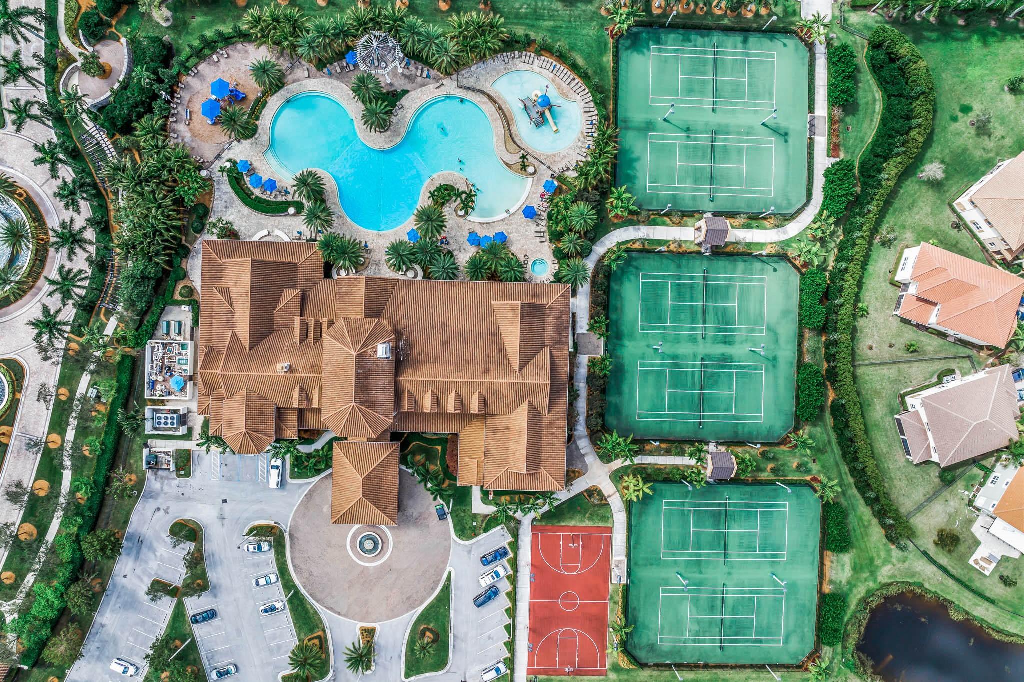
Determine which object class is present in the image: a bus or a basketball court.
basketball court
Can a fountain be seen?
Yes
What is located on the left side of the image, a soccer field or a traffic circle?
traffic circle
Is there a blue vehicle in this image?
Yes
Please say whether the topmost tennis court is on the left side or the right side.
right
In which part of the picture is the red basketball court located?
bottom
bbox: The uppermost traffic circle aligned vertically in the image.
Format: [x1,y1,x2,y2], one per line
[0,168,61,321]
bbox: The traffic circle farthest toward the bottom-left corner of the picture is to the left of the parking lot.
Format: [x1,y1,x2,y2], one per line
[0,350,30,504]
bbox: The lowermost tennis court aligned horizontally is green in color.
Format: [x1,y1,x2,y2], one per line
[626,573,818,664]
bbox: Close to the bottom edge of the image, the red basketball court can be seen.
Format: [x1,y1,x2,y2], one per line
[528,525,612,676]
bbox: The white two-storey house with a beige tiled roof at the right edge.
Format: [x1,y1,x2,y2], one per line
[957,145,1024,264]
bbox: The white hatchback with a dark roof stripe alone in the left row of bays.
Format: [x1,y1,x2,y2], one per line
[107,660,136,677]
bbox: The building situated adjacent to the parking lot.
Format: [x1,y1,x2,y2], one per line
[198,240,571,526]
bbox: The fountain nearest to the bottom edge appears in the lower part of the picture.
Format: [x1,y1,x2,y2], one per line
[346,525,392,567]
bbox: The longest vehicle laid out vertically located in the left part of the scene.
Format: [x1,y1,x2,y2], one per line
[268,460,281,489]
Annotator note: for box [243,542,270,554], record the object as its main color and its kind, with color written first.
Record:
white vehicle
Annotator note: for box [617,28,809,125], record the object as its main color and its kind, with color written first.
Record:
green tennis court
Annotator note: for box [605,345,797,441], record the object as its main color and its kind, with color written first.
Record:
green tennis court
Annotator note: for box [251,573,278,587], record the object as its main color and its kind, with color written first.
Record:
white car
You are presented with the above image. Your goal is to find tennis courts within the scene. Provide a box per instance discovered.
[615,119,808,214]
[608,253,799,350]
[628,484,820,574]
[617,28,809,125]
[626,573,818,664]
[605,345,797,441]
